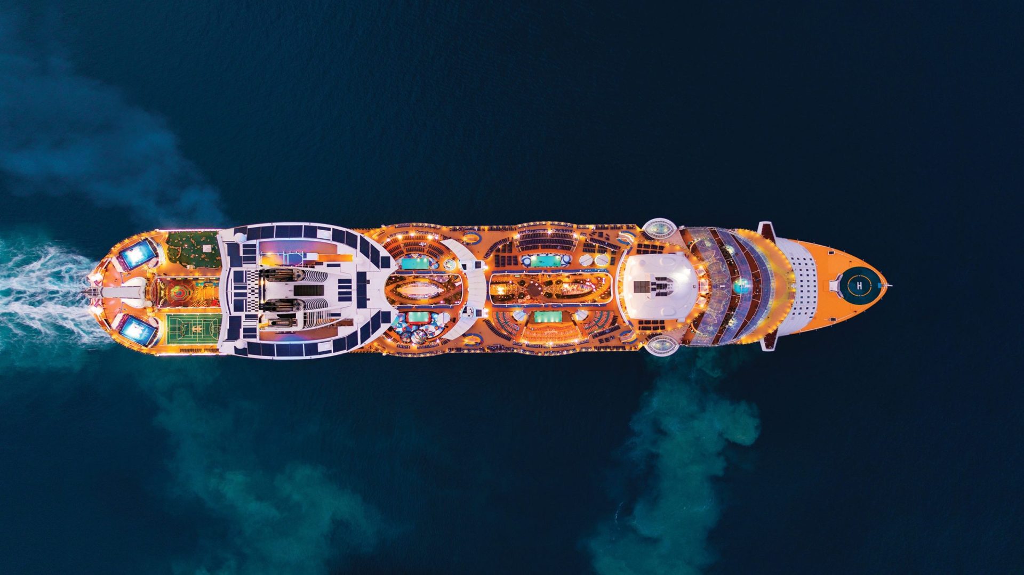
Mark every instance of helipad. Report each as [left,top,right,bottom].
[827,266,881,305]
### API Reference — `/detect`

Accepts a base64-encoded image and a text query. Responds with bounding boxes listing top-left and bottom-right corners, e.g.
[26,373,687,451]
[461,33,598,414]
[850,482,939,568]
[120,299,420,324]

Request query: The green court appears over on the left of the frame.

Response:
[164,313,224,345]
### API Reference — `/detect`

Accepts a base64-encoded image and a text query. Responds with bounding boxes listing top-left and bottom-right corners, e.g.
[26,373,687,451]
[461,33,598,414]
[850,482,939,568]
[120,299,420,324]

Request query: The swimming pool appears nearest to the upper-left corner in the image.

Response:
[397,253,440,269]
